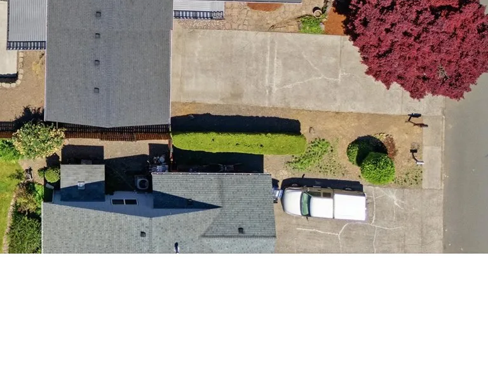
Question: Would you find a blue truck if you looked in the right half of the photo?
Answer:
No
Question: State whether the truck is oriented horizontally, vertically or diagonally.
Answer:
horizontally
